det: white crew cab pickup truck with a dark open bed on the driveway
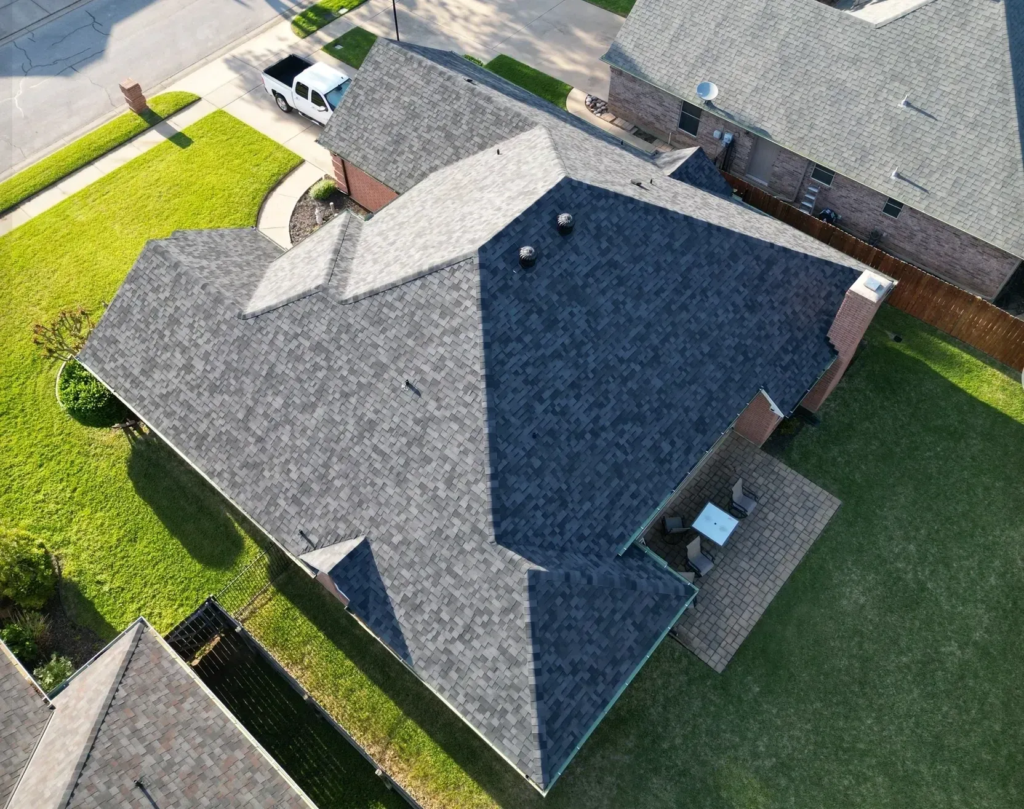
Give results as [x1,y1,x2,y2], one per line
[260,54,350,132]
